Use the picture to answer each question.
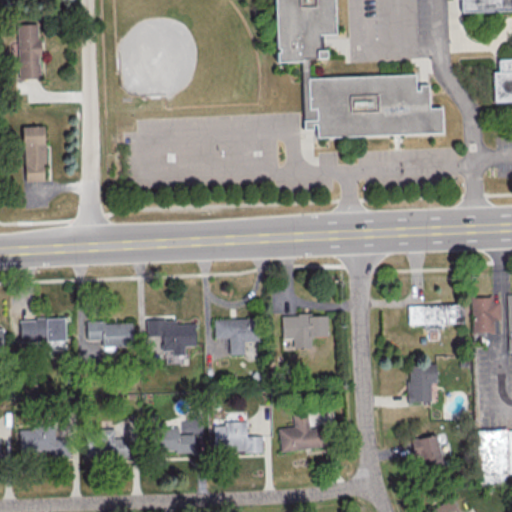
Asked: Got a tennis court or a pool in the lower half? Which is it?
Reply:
pool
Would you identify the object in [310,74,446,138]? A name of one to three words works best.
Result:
building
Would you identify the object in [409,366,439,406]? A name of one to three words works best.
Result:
house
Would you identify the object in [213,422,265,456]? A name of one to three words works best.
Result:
house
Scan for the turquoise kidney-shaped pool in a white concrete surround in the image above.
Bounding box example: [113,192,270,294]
[443,390,469,422]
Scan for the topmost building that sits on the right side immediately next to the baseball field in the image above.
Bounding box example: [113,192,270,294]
[278,0,337,62]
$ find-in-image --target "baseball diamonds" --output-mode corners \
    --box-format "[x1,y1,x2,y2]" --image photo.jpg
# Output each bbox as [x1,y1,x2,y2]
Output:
[114,0,262,110]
